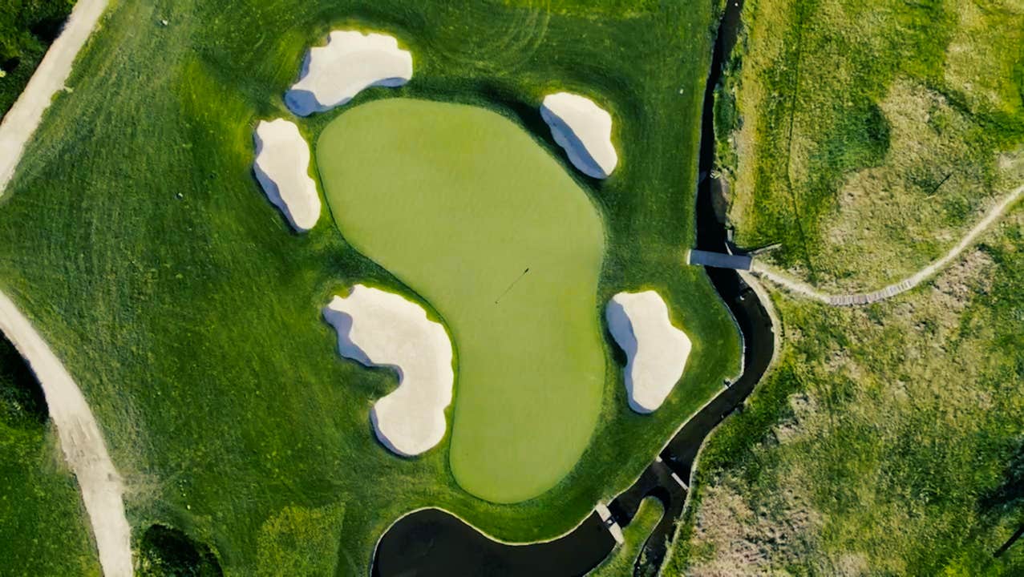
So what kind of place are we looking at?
golf course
